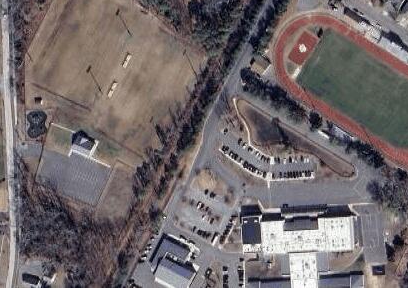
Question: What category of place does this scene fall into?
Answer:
sports ground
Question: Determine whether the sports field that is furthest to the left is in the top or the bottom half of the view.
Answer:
top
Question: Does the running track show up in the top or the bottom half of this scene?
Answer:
top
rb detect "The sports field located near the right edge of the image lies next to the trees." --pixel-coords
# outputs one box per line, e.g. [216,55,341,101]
[283,25,408,149]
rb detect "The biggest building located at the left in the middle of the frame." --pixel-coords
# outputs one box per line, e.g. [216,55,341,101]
[72,134,98,157]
